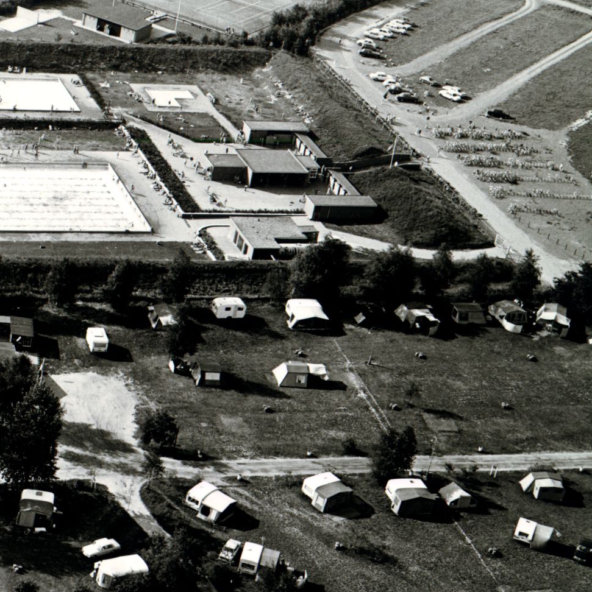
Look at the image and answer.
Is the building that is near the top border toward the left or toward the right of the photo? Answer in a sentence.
You can find the building that is near the top border on the left side of the picture.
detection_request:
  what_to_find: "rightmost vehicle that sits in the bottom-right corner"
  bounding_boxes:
[574,537,592,561]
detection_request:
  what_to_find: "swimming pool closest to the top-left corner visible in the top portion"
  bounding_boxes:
[0,73,80,113]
